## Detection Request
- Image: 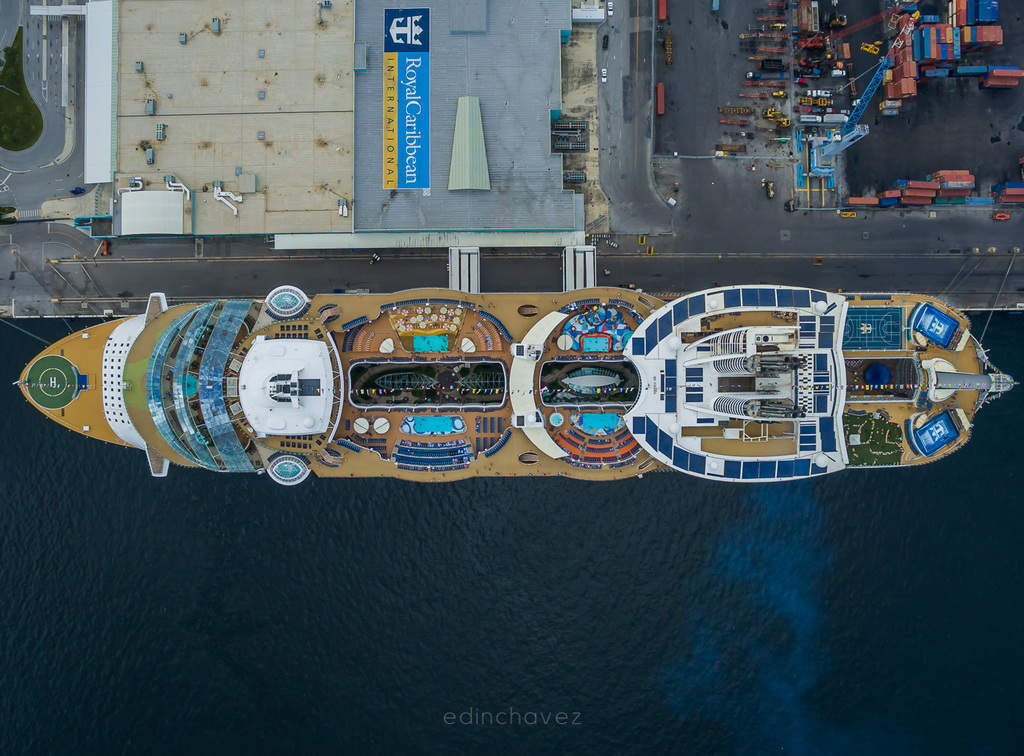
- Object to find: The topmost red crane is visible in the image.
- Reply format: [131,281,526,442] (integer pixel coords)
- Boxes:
[799,1,900,50]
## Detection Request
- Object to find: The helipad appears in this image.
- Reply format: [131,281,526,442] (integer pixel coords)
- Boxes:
[26,355,79,409]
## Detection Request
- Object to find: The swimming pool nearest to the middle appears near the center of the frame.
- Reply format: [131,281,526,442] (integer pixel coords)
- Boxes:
[549,412,563,426]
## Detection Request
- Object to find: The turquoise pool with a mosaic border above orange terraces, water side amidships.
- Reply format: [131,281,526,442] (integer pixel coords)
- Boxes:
[570,411,628,435]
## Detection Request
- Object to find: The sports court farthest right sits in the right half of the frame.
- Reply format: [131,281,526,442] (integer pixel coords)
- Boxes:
[841,305,918,358]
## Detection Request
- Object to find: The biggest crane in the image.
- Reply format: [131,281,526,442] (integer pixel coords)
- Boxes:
[796,10,921,189]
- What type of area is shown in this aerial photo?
port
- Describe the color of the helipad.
green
